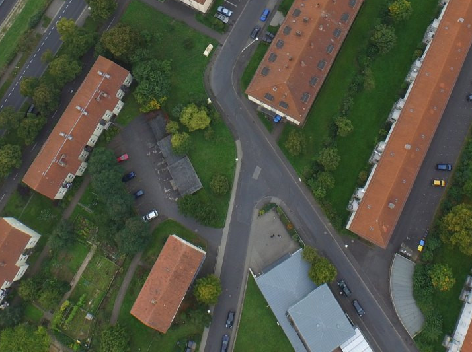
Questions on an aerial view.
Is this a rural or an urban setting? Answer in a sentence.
This place is urban.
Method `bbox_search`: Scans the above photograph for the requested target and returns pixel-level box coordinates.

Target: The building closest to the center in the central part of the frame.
[168,156,203,196]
